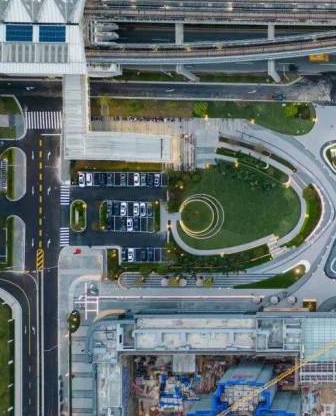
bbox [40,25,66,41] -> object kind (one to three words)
solar array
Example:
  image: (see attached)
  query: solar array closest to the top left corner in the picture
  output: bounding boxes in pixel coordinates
[6,25,33,41]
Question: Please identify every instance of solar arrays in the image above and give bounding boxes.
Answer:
[6,25,33,41]
[40,25,66,41]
